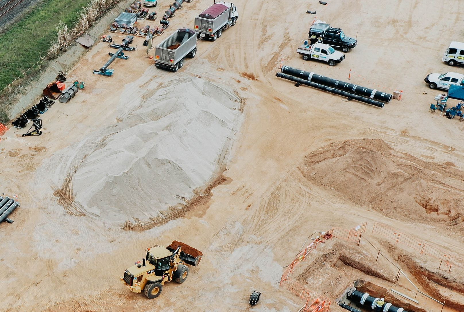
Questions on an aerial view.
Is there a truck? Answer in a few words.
Yes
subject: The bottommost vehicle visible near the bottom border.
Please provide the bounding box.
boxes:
[117,242,211,301]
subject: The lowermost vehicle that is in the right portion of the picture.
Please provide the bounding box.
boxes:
[420,70,464,91]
